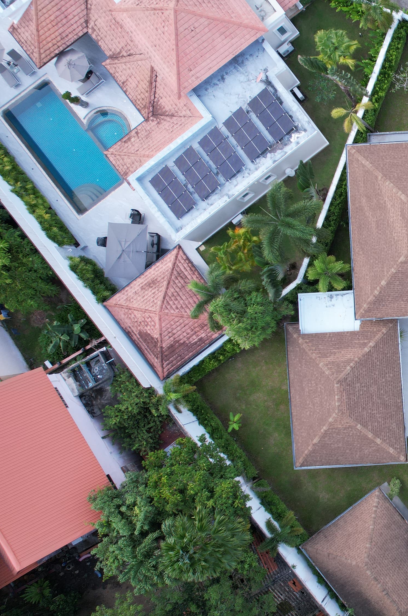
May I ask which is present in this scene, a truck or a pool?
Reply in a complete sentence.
Of the two, only a pool appears.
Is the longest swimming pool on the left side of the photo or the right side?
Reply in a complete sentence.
It is on the left.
